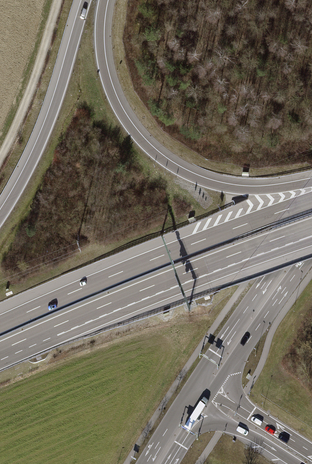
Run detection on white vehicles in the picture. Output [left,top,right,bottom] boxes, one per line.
[185,395,210,430]
[80,8,87,20]
[77,279,88,286]
[252,416,262,426]
[236,426,248,436]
